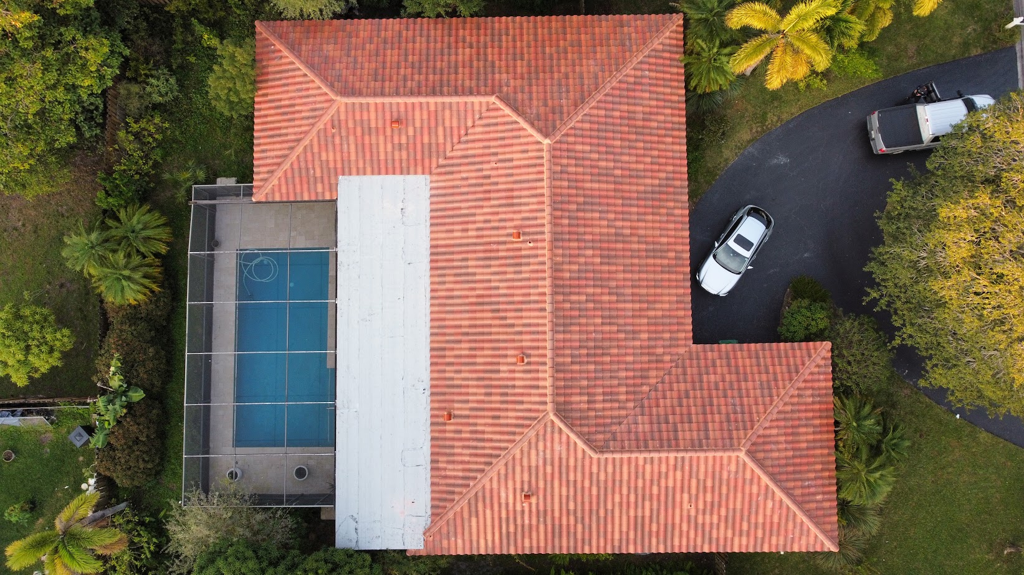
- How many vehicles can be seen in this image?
2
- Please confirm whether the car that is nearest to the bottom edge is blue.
No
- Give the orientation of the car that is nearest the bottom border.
on a diagonal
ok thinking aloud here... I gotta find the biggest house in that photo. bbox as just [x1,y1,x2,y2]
[251,11,843,556]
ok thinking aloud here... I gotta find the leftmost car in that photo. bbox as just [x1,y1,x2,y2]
[697,203,777,295]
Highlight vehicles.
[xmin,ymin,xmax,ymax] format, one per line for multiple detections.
[865,83,1002,156]
[697,203,777,295]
